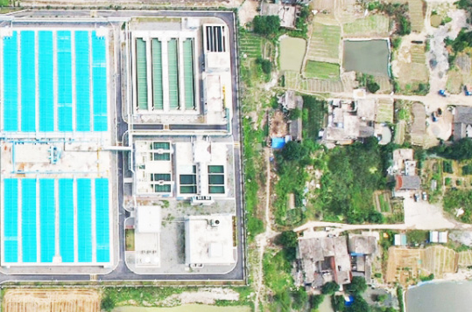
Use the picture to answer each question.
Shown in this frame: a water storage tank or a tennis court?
water storage tank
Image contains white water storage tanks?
Yes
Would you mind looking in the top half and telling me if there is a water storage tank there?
Yes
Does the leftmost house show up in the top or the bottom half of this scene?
bottom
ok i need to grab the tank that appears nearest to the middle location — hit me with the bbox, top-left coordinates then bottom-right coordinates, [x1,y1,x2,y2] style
[174,135,229,200]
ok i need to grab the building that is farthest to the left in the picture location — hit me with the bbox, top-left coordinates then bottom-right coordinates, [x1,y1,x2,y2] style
[134,233,160,268]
